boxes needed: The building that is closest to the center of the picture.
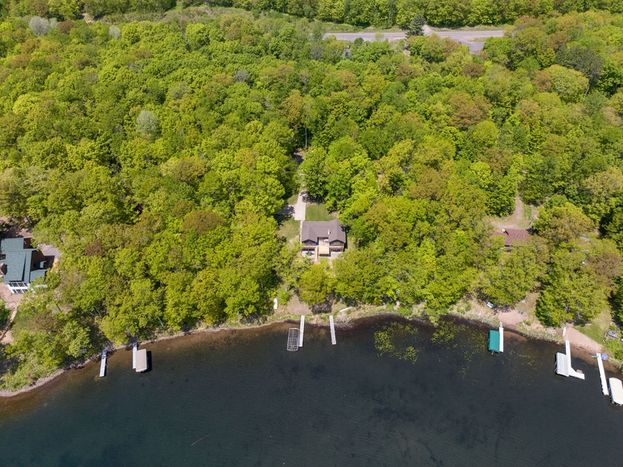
[301,218,346,266]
